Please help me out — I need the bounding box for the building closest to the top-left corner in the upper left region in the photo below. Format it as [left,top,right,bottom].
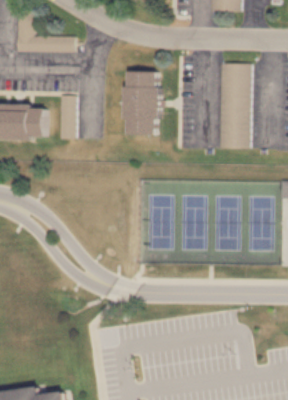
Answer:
[18,6,78,52]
